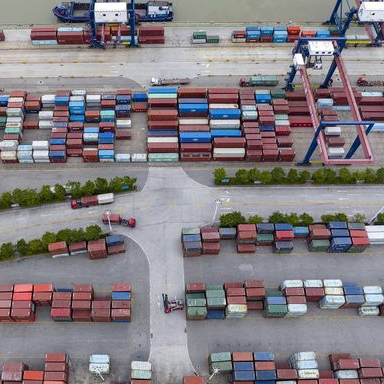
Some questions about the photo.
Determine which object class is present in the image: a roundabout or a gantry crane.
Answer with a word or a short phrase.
gantry crane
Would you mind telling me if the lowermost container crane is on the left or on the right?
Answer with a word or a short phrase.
right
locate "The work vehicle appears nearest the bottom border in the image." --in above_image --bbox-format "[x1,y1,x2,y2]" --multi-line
[159,298,183,315]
